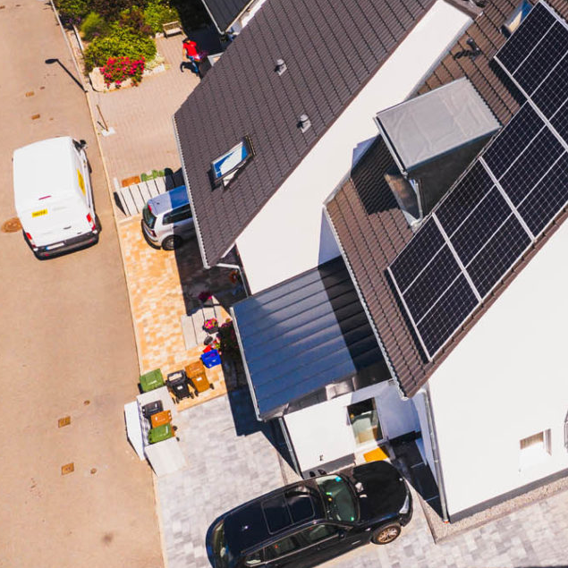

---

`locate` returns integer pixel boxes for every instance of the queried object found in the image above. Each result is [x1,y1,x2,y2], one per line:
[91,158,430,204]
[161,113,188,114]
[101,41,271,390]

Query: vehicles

[207,451,410,568]
[7,130,96,250]
[132,184,197,249]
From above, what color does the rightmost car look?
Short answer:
black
